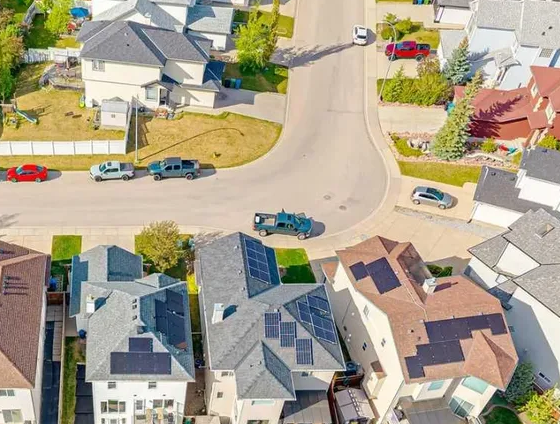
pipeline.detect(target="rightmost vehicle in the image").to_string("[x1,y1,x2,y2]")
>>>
[411,184,455,210]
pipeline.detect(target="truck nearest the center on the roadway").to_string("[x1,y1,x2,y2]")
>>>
[252,210,314,238]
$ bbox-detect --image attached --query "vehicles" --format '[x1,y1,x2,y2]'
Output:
[149,156,201,180]
[411,184,455,210]
[385,38,433,59]
[353,25,370,45]
[89,159,137,181]
[252,210,314,238]
[5,164,48,183]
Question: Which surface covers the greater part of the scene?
buildings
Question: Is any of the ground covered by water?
No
